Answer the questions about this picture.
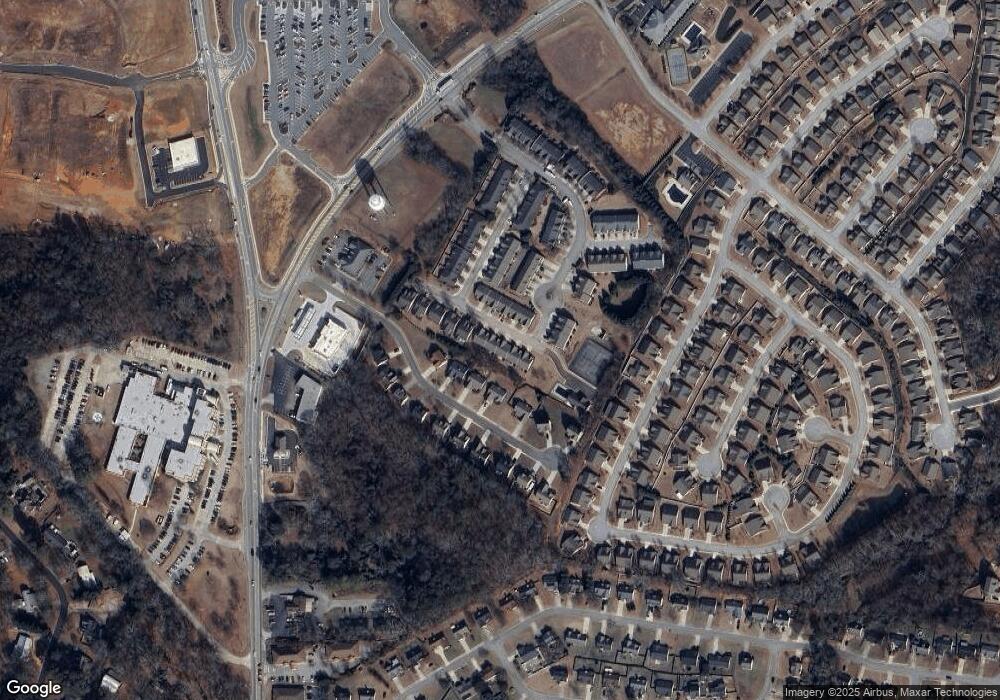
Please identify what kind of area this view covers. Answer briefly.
residential area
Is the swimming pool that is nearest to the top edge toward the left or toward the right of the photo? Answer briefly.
right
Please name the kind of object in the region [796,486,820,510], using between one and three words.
house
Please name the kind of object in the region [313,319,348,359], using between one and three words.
building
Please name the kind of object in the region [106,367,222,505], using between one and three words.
building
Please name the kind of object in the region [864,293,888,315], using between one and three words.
house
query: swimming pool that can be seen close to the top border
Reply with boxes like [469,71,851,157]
[681,21,705,45]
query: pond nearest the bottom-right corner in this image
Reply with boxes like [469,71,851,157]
[838,485,909,546]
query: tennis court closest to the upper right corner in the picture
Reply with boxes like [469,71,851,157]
[665,48,689,85]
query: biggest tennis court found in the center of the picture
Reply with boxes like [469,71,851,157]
[568,339,613,384]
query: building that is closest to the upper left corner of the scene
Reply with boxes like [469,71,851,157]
[170,138,200,173]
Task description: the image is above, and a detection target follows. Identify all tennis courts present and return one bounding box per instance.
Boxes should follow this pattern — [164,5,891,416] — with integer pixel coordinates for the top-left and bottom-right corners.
[568,339,613,384]
[665,48,689,85]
